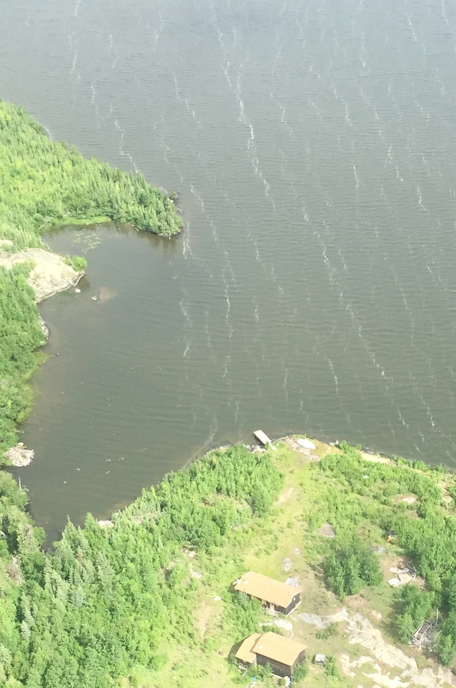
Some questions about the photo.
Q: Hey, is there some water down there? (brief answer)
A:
Yes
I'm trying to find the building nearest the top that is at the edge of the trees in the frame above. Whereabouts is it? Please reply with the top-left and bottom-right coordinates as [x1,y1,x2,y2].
[235,573,303,618]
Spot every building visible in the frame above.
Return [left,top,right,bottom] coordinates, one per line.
[235,573,303,618]
[239,631,311,674]
[413,616,439,649]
